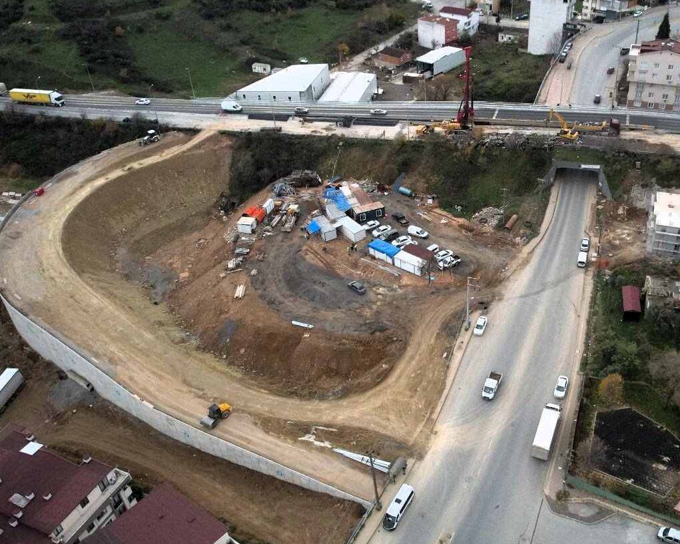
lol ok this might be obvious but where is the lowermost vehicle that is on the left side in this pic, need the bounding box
[195,398,236,435]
